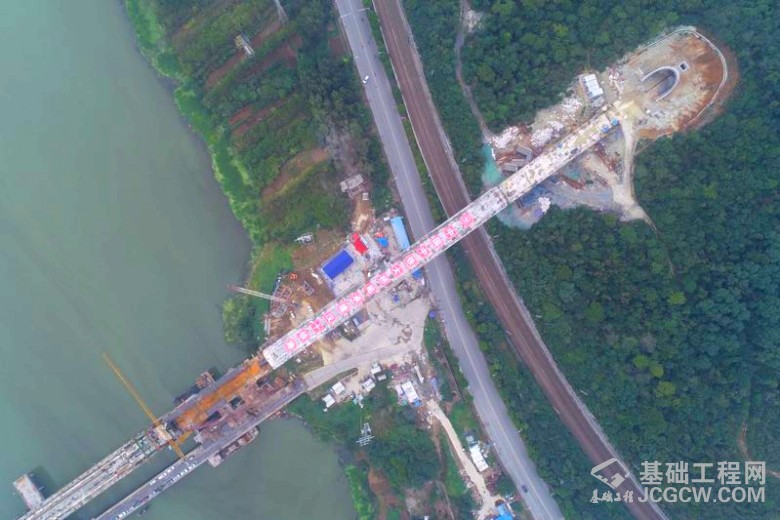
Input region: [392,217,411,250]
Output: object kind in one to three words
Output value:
shed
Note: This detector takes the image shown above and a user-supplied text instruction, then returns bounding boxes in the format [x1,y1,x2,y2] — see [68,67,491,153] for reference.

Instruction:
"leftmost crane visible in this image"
[101,352,193,460]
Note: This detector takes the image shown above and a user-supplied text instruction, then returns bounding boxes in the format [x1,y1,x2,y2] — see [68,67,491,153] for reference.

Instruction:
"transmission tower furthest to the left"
[235,29,257,59]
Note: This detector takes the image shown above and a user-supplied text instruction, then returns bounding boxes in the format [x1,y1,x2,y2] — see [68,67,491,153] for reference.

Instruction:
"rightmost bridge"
[262,100,628,369]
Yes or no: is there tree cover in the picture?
Yes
